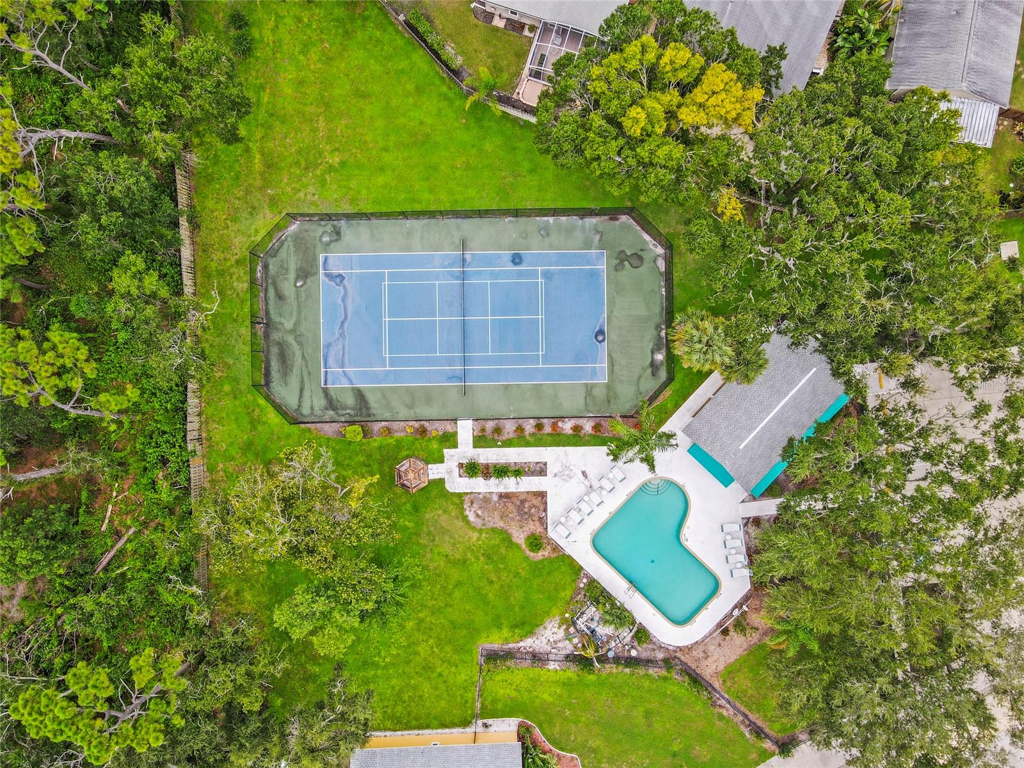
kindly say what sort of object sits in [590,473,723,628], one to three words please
swimming pool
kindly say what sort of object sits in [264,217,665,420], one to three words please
tennis court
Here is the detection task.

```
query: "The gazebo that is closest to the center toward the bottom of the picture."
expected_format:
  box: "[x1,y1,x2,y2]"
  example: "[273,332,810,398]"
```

[394,456,430,494]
